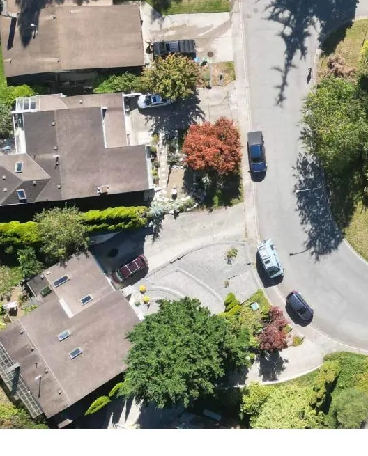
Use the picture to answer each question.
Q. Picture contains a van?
Yes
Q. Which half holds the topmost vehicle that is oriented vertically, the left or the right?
right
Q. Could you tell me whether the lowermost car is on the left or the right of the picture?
right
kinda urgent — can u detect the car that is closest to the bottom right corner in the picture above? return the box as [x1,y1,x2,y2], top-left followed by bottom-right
[284,286,316,324]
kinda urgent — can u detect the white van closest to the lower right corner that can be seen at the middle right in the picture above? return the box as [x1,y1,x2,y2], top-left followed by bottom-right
[254,238,289,284]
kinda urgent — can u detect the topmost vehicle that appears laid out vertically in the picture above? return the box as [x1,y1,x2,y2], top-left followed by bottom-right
[248,130,269,173]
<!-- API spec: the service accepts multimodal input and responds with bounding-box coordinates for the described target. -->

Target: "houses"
[0,0,151,77]
[0,250,150,418]
[0,91,157,206]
